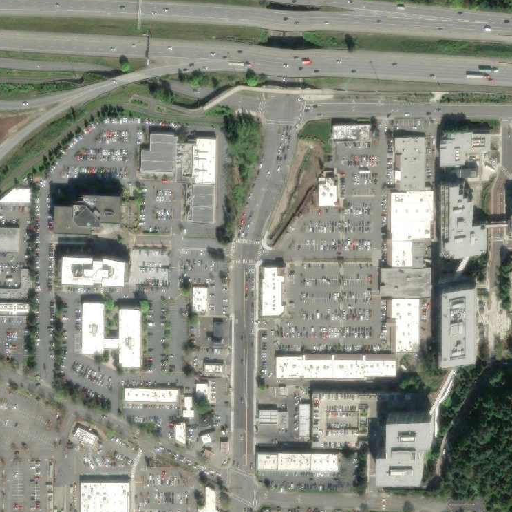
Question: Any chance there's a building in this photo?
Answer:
Yes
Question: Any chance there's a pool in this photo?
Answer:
No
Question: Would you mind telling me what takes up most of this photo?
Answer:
paved ground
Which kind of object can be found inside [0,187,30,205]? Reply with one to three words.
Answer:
building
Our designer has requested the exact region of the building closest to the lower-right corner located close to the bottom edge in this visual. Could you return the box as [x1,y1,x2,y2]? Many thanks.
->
[375,411,432,488]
